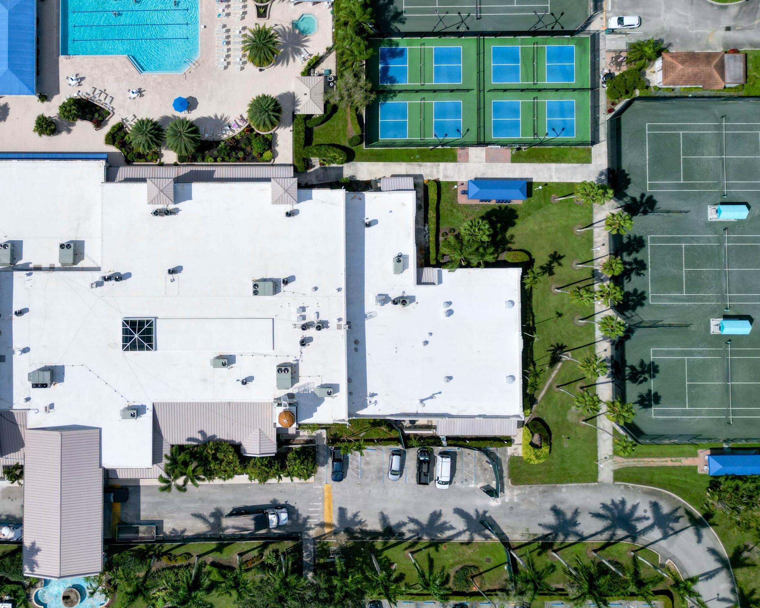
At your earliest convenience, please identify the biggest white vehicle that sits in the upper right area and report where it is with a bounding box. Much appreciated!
[611,13,643,28]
